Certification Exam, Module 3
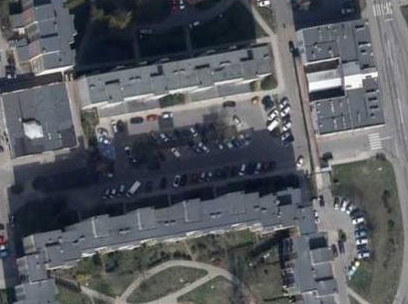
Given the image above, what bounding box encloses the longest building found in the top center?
[79,44,275,113]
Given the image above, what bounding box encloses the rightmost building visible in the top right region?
[296,16,385,136]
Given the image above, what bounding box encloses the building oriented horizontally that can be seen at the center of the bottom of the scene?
[21,189,305,272]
